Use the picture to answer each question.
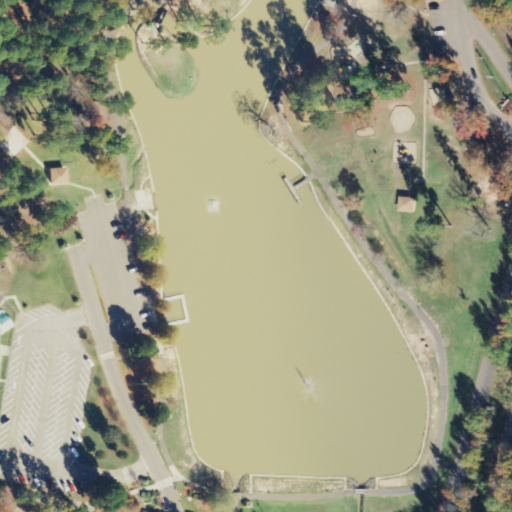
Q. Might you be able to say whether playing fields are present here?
No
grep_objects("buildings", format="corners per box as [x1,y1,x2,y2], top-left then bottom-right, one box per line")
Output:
[328,82,348,98]
[396,196,415,212]
[0,310,15,336]
[50,166,69,184]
